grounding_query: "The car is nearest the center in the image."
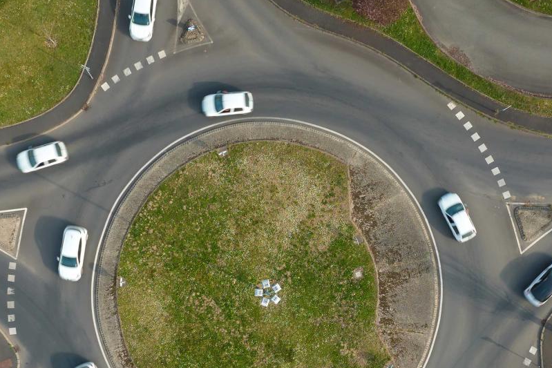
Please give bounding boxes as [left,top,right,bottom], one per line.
[201,89,255,119]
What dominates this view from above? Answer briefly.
paved ground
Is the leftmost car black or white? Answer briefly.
white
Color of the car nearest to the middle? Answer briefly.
white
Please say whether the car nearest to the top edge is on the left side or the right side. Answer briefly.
left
